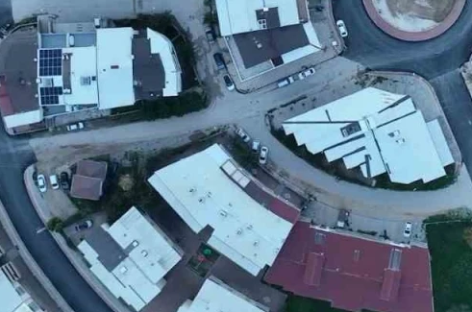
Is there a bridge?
No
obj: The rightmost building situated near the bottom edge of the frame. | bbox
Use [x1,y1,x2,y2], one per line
[264,215,434,312]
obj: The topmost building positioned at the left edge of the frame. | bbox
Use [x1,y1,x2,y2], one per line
[0,22,185,128]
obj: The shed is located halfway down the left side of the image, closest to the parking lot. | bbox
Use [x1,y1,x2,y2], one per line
[71,157,108,199]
